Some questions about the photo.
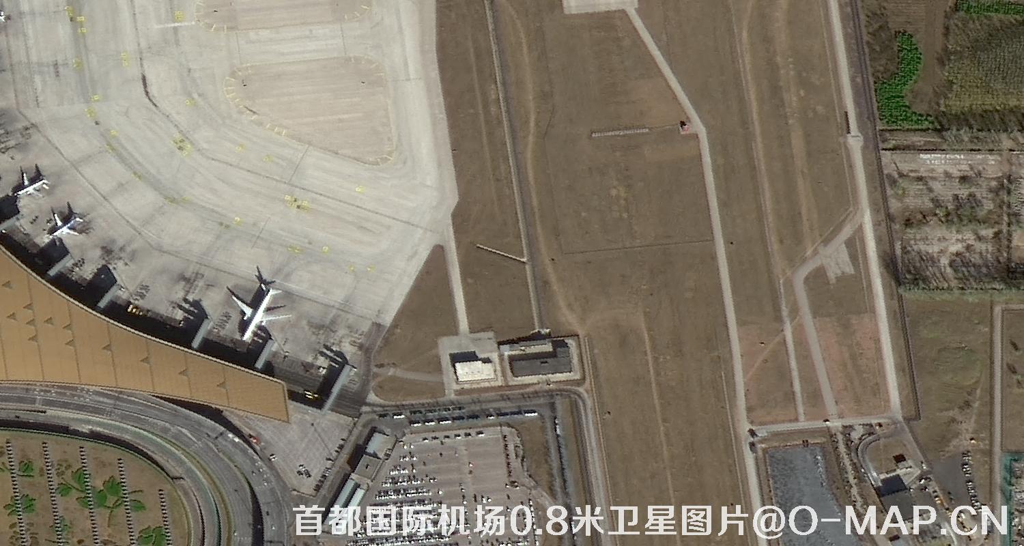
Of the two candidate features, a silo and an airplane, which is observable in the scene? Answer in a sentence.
The one in the frame is an airplane.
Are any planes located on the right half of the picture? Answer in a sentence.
No, I can find no plane on the right half of the picture.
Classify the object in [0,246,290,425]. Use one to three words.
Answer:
building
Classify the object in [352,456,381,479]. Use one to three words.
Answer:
building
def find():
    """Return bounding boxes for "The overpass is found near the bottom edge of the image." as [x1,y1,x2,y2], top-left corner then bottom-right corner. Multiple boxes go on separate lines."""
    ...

[0,383,287,546]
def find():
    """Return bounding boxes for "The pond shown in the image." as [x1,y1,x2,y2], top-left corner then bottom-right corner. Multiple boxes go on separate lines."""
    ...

[767,445,853,546]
